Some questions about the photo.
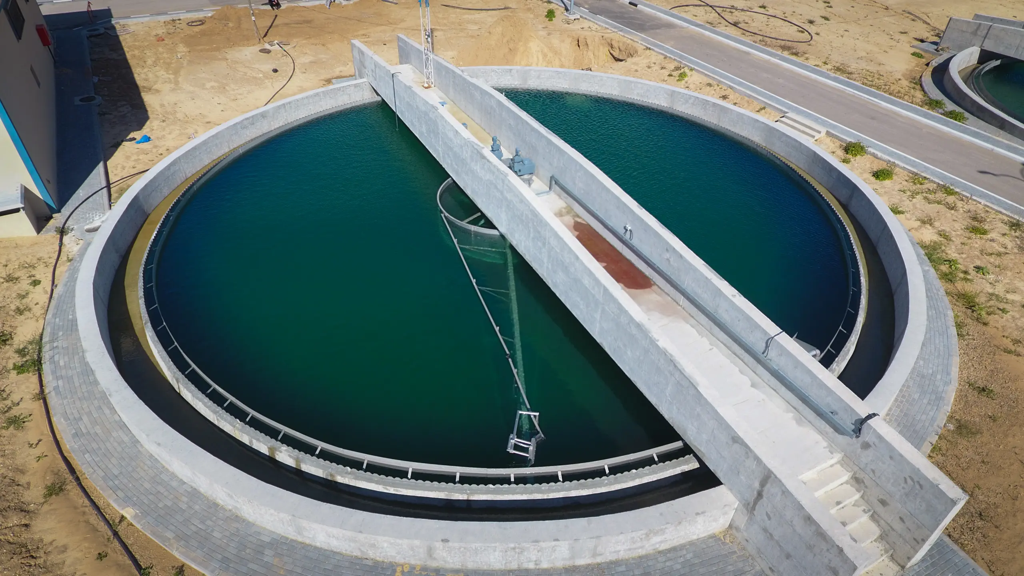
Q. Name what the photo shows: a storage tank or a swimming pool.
storage tank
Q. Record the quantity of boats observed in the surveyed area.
0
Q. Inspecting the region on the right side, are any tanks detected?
Yes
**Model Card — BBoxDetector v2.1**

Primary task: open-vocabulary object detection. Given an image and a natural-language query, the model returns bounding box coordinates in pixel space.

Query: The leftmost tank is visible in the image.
[74,64,927,571]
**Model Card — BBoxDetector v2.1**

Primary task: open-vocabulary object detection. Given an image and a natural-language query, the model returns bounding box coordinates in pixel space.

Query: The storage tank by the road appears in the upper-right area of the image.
[946,42,1024,169]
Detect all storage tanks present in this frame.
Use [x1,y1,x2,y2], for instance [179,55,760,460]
[946,42,1024,169]
[74,64,927,571]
